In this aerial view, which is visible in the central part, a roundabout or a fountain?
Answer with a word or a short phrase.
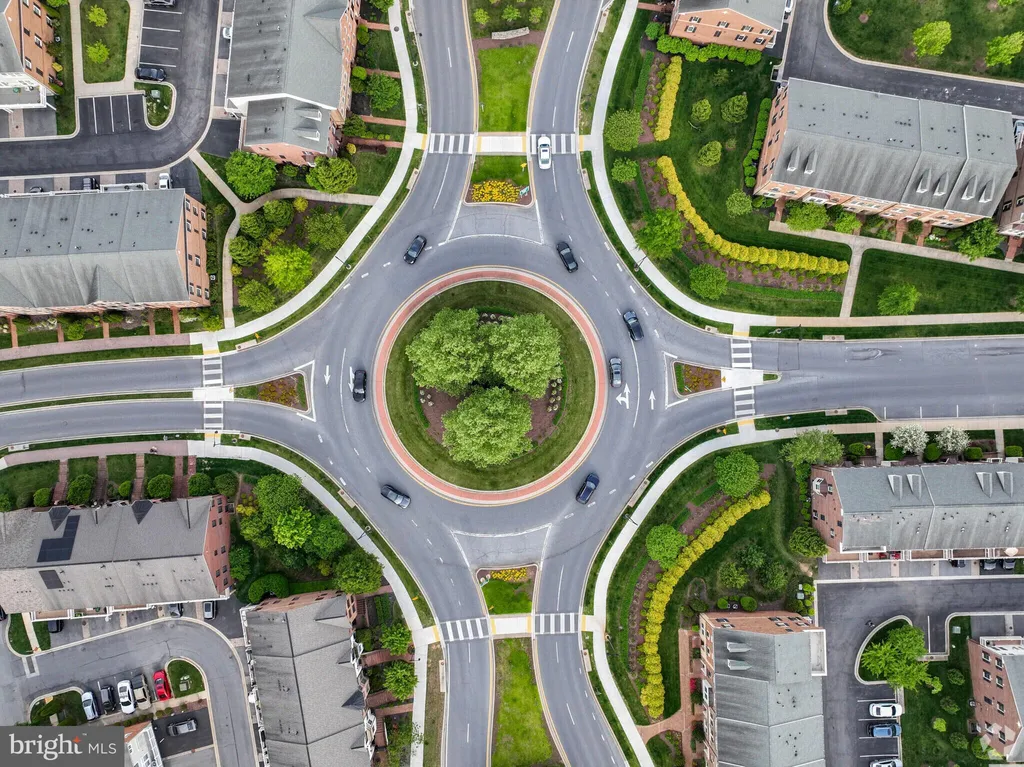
roundabout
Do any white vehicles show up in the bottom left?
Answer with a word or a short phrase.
Yes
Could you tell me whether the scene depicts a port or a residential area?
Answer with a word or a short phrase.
residential area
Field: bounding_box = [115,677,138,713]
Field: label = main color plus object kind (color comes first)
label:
white car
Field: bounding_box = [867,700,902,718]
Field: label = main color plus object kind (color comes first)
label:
white car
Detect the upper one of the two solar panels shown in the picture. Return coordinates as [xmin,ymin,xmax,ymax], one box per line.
[37,516,80,562]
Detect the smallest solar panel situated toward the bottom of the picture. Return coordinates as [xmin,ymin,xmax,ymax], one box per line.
[39,570,63,589]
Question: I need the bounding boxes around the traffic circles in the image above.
[337,238,643,533]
